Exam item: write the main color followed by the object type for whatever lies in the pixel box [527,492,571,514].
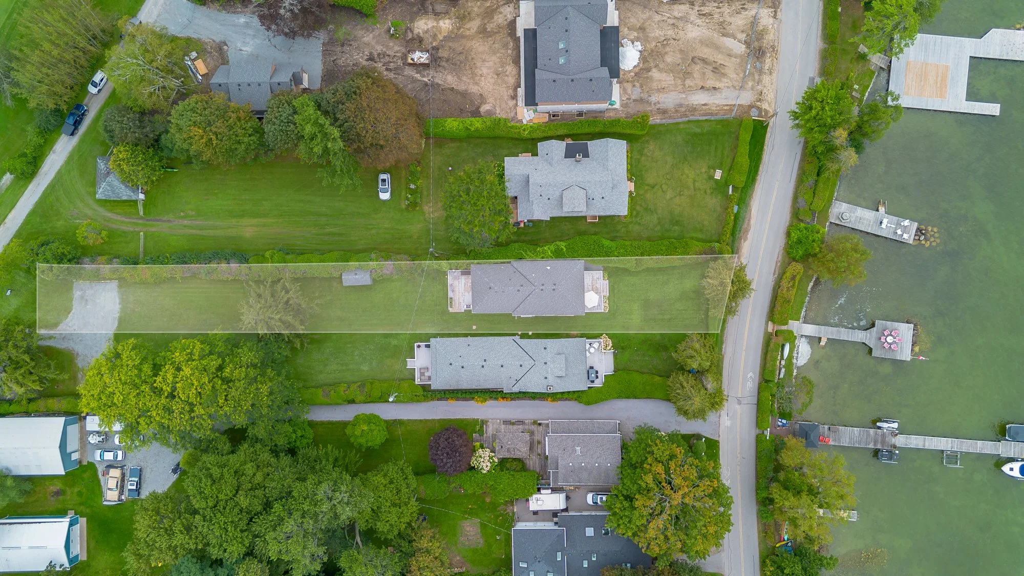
white vehicle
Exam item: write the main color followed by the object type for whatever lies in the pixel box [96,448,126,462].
white car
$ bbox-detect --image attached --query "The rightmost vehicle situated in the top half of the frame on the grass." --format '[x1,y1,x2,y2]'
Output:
[378,173,392,200]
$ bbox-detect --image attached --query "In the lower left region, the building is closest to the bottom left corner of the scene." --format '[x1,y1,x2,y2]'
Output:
[0,513,80,571]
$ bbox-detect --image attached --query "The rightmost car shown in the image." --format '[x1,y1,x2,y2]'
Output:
[586,491,614,505]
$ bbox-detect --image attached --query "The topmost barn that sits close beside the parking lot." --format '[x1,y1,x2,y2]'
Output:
[0,413,78,475]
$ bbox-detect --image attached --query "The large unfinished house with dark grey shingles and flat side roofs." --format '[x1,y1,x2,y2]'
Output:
[517,0,620,119]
